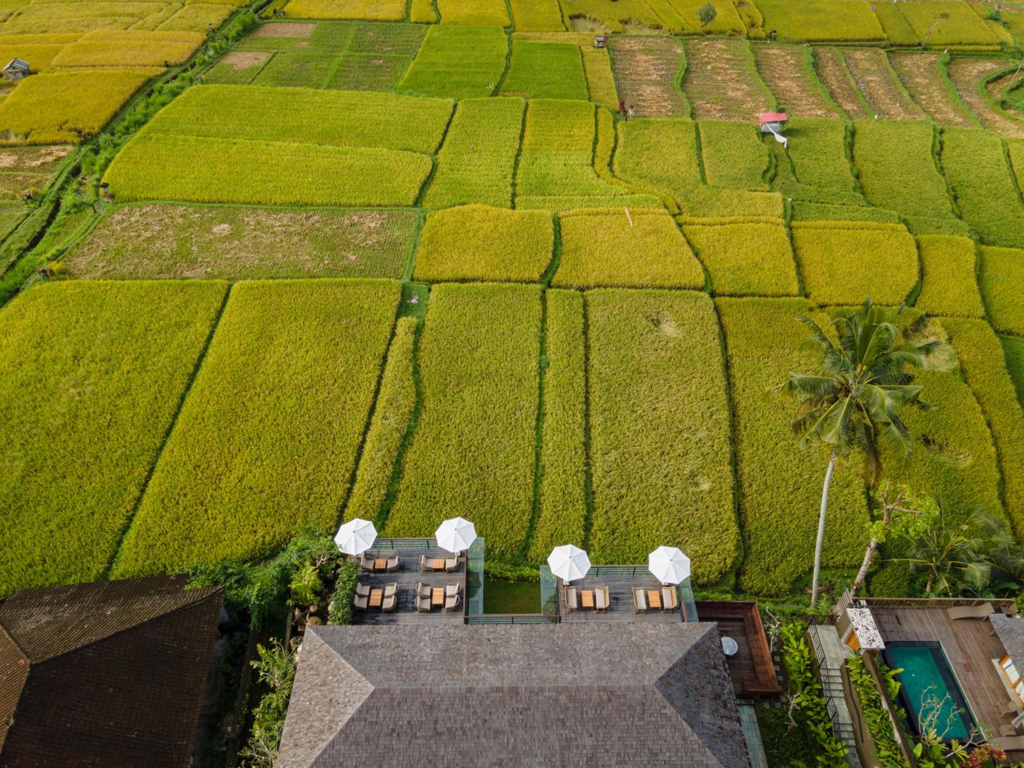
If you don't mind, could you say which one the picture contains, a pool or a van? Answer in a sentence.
The image shows a pool.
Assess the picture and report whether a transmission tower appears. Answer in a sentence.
No, the scene contains no transmission tower.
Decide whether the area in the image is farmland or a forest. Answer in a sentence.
This looks like farmland.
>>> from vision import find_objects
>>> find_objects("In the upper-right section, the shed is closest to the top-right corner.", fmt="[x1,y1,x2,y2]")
[759,108,788,135]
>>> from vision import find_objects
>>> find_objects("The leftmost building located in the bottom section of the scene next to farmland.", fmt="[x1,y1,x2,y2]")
[0,576,225,768]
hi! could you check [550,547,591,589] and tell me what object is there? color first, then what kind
white umbrella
